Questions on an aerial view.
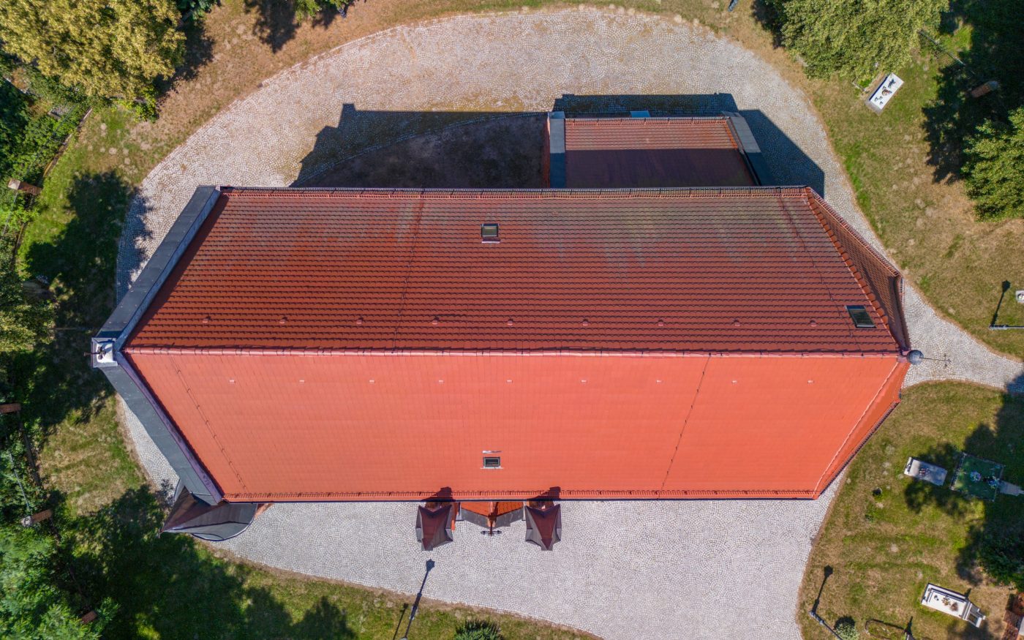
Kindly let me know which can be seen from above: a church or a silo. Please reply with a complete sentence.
Looking from above, you can make out a church.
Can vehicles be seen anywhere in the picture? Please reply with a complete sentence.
No, no vehicle is visible in the scene.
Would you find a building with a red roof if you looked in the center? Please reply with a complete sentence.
Yes, a building with a red roof is visible in the center.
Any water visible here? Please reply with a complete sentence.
No, the scene doesn't show any water.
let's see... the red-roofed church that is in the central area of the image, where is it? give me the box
[79,111,951,552]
